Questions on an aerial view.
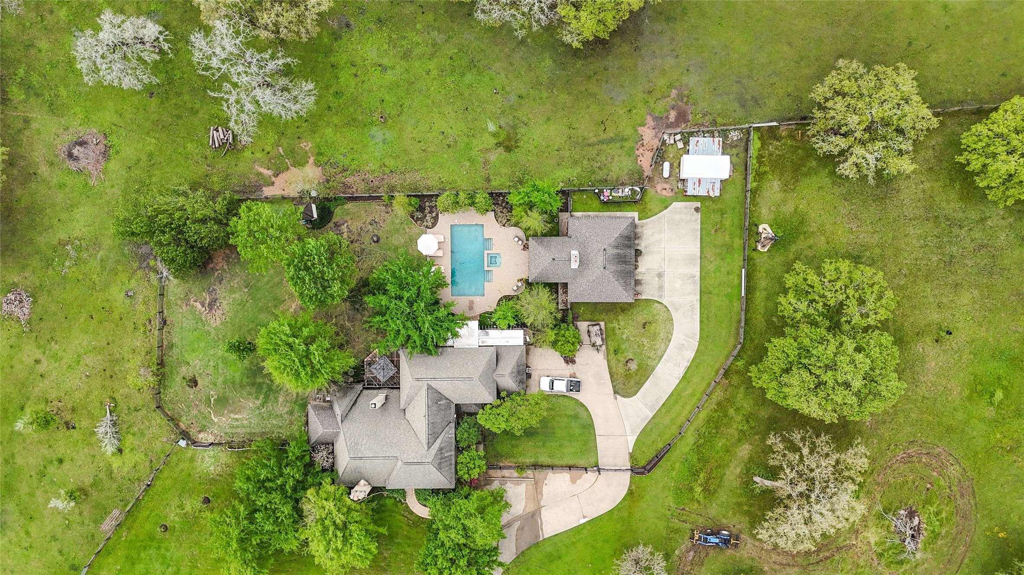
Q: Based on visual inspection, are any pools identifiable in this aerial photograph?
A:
Yes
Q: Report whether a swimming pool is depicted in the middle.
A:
Yes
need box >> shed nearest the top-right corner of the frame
[680,136,732,196]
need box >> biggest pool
[449,223,505,298]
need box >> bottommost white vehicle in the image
[539,377,582,394]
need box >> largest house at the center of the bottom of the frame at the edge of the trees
[308,345,526,502]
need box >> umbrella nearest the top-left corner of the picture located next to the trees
[418,235,438,255]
